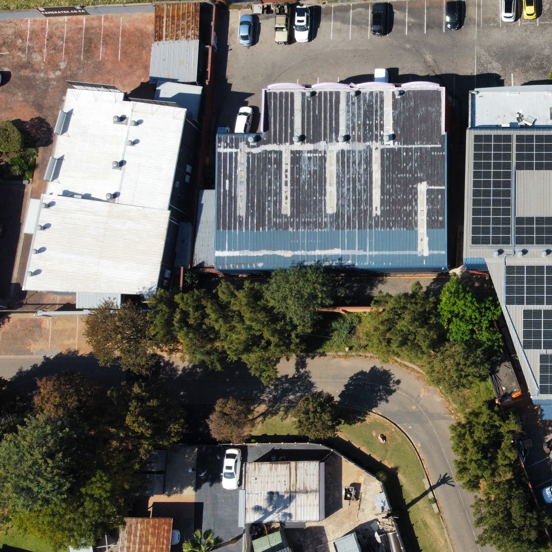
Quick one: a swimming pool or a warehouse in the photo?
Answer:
warehouse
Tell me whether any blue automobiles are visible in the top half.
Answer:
Yes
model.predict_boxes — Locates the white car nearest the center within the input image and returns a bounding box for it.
[234,105,255,133]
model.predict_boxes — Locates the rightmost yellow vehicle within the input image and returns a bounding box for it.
[522,0,537,21]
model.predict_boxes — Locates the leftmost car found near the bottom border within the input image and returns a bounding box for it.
[170,529,182,544]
